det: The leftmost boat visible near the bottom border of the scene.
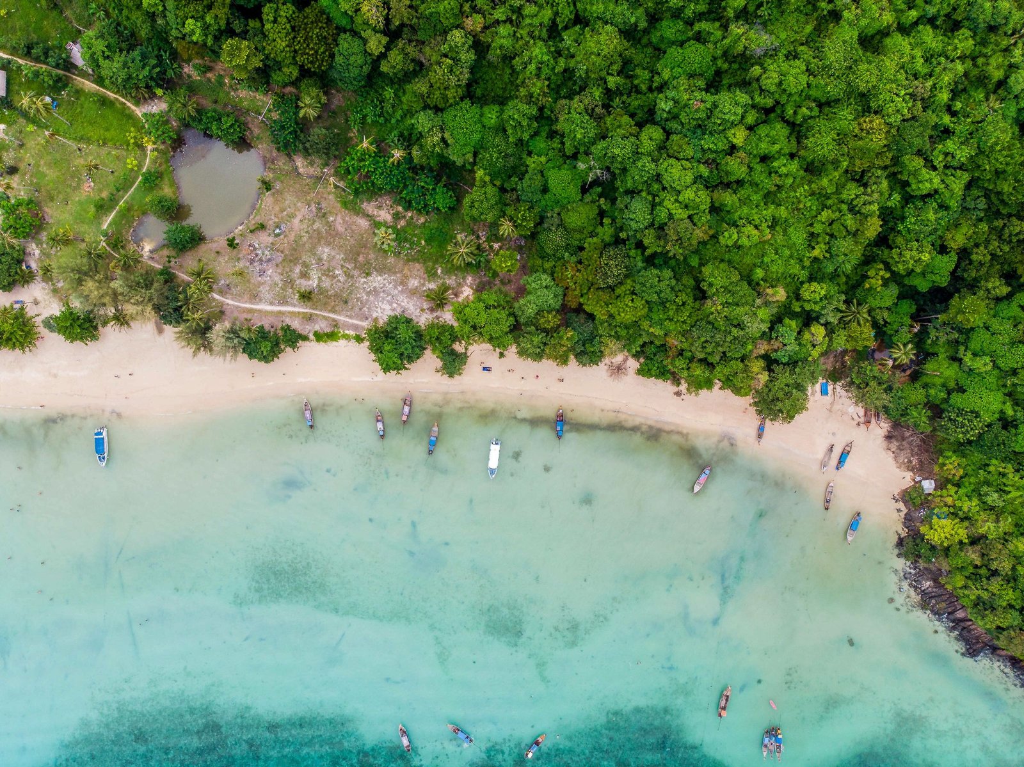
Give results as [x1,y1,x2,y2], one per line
[398,725,415,761]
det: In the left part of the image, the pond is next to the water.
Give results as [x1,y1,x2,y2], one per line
[133,128,267,252]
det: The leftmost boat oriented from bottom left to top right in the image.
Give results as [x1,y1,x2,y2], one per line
[524,736,546,760]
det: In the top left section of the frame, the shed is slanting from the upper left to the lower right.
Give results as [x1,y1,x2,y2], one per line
[66,43,91,68]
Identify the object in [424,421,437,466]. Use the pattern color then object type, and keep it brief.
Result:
blue boat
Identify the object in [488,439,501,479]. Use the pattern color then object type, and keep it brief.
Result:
white boat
